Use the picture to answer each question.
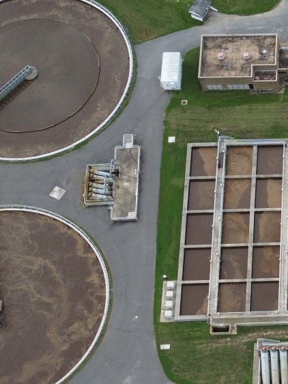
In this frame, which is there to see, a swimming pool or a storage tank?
storage tank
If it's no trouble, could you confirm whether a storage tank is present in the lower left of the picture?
Yes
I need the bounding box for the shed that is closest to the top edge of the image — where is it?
[189,0,217,22]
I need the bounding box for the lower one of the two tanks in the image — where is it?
[0,203,112,384]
